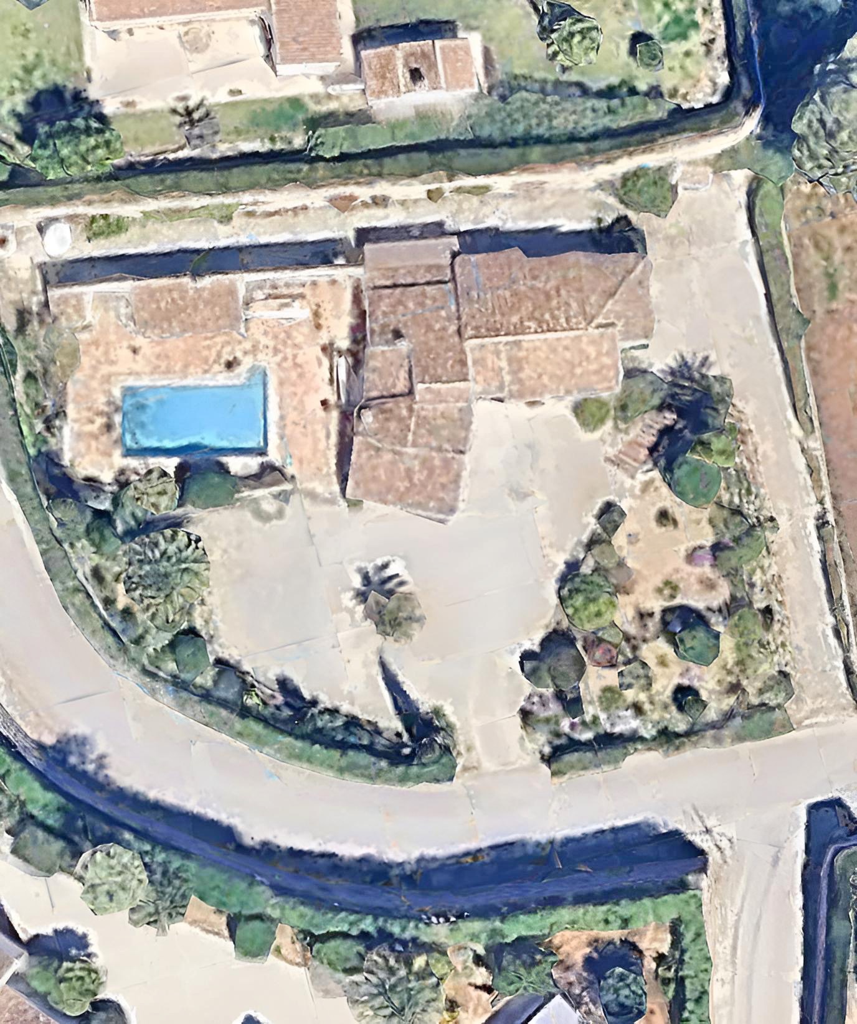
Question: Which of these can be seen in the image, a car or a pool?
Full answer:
It is a pool that can be seen here.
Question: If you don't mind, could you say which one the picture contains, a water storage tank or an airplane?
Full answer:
The image shows a water storage tank.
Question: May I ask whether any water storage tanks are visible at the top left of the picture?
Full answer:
Yes, a water storage tank is visible at the top left of the picture.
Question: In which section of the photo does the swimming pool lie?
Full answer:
The swimming pool sits in the left section of the image.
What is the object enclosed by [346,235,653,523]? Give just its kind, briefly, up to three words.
house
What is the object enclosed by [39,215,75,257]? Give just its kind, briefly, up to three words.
water tank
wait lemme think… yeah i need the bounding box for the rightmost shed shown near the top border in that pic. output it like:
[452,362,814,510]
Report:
[361,37,479,104]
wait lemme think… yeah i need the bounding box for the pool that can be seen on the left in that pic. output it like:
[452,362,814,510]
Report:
[119,362,272,460]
